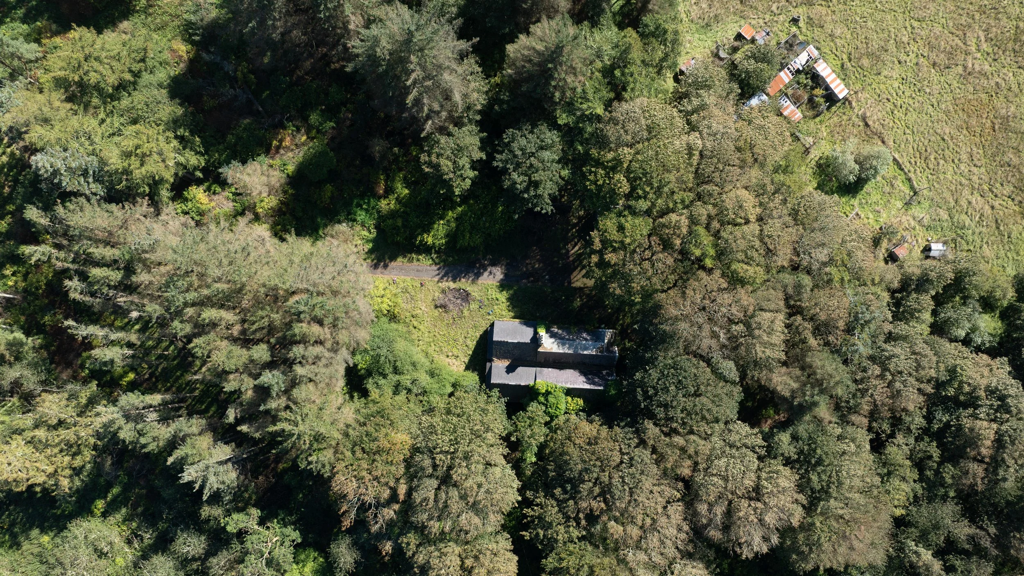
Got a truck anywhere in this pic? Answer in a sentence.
No, no truck is visible in the view.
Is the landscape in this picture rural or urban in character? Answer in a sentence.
The area shown here is rural.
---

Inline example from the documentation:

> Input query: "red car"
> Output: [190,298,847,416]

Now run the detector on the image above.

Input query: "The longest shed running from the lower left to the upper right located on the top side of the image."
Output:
[765,45,818,100]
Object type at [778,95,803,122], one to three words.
shed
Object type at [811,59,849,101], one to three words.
shed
